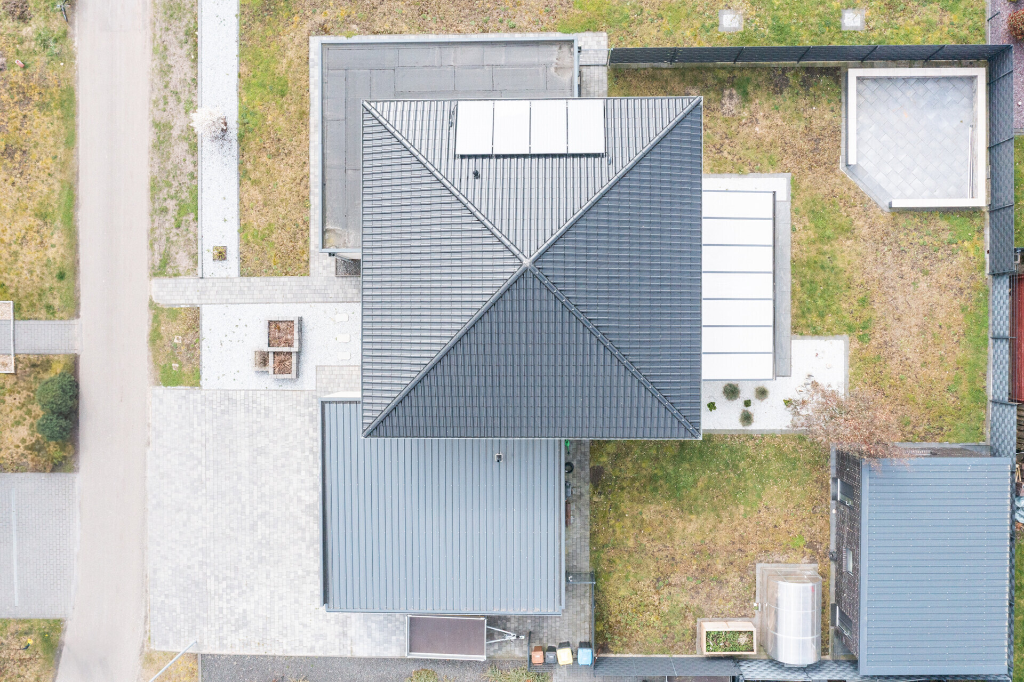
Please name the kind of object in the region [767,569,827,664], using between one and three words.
greenhouse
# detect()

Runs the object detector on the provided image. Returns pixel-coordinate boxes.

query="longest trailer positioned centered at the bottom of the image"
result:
[405,613,525,662]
